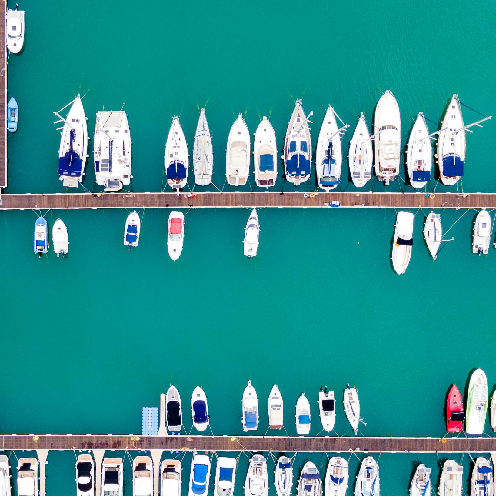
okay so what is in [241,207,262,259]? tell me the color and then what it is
white boat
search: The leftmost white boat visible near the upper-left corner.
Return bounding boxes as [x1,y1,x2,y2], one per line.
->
[5,2,25,53]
